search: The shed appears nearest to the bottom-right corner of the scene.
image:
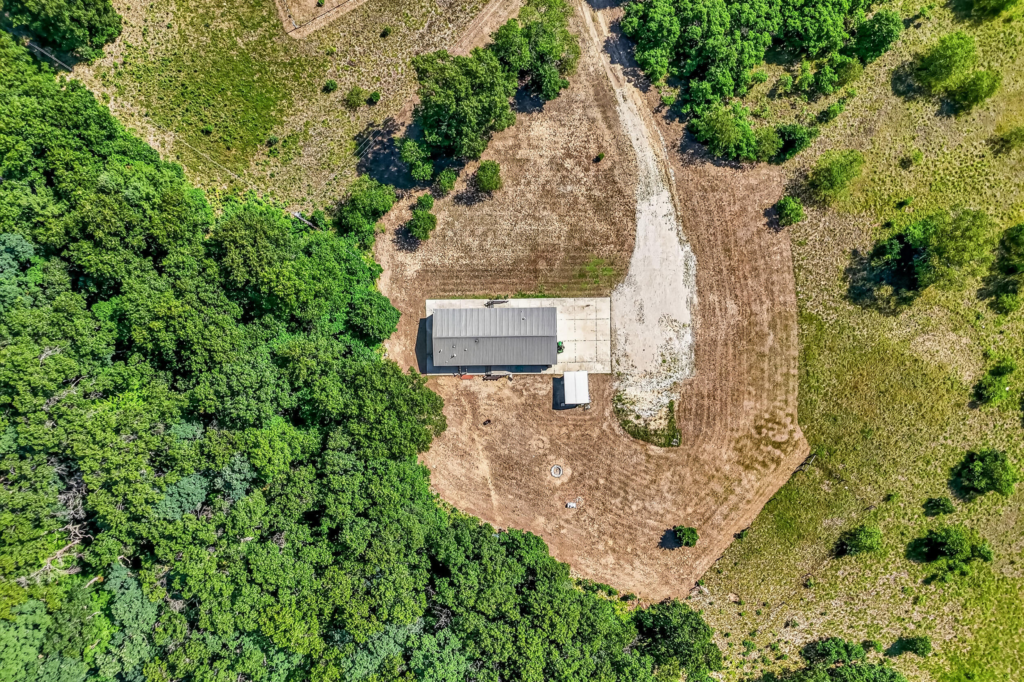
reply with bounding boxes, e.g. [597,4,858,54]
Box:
[564,369,589,404]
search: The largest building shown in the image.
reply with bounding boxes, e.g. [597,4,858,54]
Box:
[432,307,557,367]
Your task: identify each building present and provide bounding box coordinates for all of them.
[432,307,557,367]
[564,369,589,404]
